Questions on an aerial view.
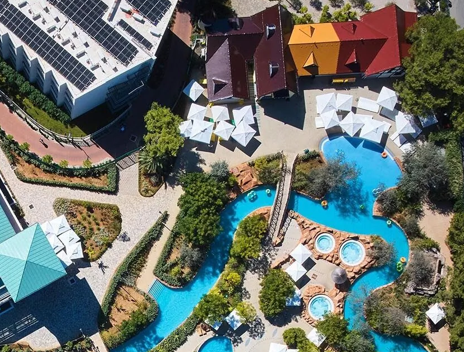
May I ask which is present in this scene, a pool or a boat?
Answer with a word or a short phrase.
pool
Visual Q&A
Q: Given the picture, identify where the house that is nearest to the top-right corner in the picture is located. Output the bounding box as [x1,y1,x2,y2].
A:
[285,4,418,83]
